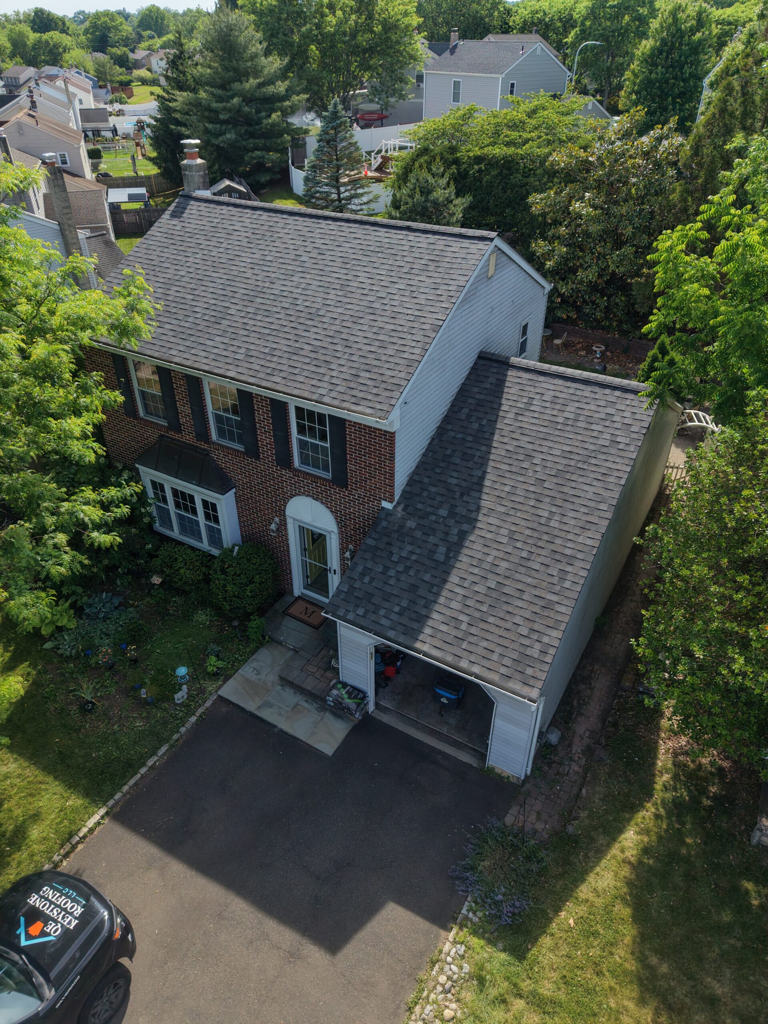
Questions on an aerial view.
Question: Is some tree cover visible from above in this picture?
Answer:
Yes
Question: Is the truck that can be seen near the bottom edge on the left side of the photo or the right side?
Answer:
left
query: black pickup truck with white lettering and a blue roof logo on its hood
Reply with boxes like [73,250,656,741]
[0,867,143,1024]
